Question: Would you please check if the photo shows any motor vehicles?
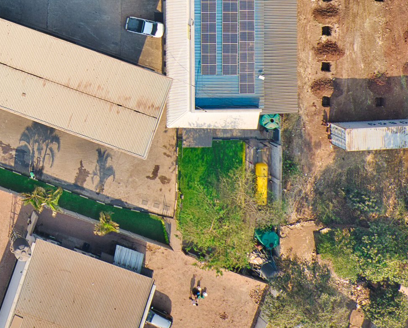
Yes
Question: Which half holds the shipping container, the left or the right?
right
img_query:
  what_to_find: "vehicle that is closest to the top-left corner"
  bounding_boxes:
[121,17,165,39]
